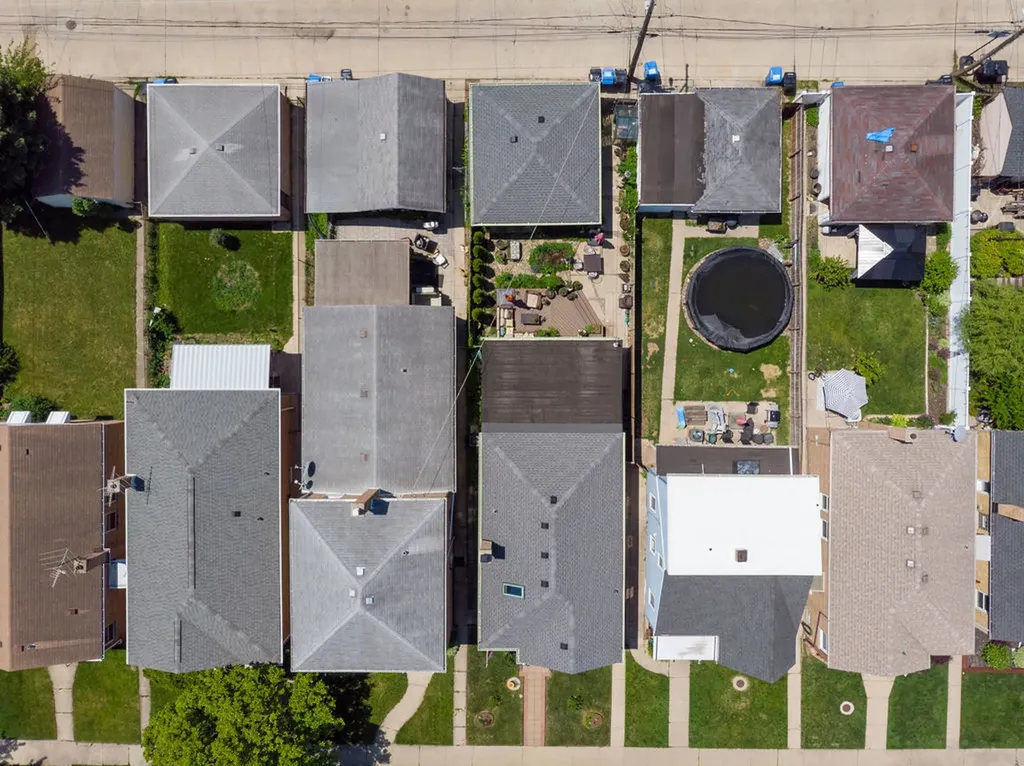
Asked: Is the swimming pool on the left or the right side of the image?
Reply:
right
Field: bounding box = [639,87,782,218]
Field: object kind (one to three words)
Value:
building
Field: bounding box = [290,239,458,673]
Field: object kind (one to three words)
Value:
house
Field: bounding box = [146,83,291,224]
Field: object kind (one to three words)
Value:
building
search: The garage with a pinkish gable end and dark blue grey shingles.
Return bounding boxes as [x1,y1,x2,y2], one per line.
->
[974,96,1024,184]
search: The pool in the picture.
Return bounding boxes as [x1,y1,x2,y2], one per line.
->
[681,247,795,352]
